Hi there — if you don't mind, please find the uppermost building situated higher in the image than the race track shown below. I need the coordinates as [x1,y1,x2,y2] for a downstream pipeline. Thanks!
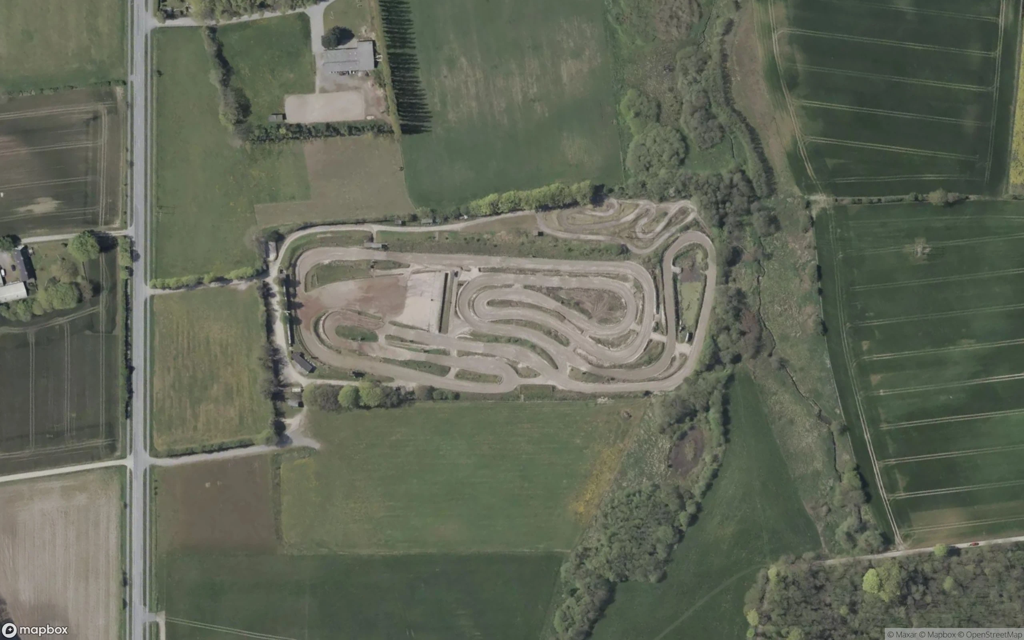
[322,40,374,71]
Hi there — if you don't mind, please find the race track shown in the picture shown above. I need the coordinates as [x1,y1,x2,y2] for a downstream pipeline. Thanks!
[296,231,701,393]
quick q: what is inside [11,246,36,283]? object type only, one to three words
house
